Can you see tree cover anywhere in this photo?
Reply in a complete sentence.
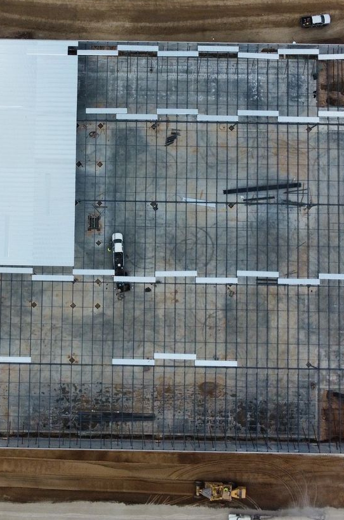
No, there is no tree cover in the image.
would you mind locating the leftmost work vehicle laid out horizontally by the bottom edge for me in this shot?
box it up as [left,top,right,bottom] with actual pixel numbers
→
[195,479,246,501]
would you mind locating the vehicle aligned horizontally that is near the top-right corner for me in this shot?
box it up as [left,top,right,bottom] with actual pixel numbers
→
[299,14,331,30]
